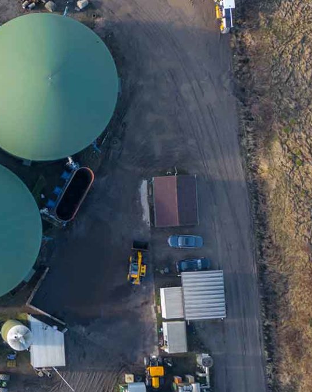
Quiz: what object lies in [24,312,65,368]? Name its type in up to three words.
shed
